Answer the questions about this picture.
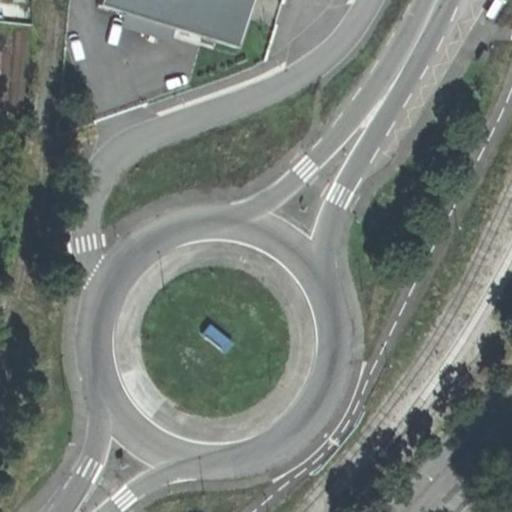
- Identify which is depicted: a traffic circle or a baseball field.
traffic circle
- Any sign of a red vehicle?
No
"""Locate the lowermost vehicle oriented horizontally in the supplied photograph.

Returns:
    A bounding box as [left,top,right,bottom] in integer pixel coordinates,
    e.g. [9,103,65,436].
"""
[164,75,188,90]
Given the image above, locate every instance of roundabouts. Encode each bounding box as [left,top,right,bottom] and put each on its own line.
[78,203,354,480]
